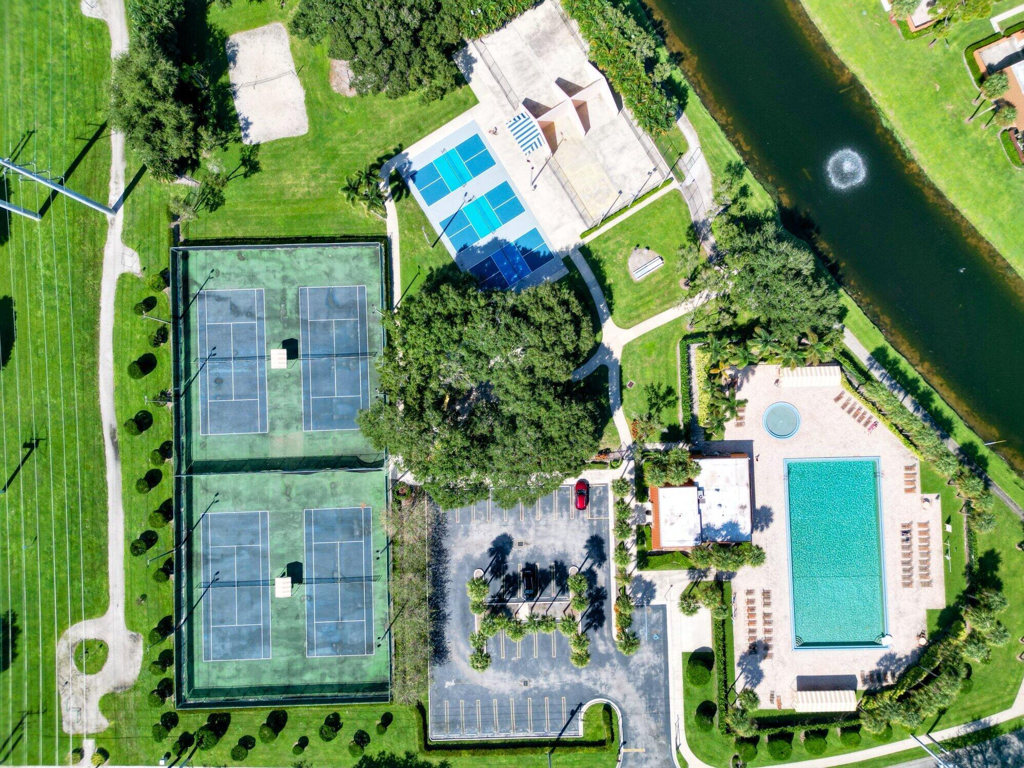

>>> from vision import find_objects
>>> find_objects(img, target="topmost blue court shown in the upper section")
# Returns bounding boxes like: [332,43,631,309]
[409,133,496,207]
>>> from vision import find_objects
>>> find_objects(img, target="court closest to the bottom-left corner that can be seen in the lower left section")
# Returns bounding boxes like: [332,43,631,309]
[193,511,276,662]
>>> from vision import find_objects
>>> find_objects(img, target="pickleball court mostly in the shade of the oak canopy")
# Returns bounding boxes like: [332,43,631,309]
[468,227,555,289]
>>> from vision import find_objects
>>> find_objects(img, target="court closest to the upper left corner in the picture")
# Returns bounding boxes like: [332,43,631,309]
[225,22,309,145]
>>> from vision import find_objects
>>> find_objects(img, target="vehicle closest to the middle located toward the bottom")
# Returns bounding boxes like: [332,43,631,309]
[575,480,590,511]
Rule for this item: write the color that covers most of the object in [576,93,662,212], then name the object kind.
white sports court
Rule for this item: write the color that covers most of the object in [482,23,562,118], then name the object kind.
white sports court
